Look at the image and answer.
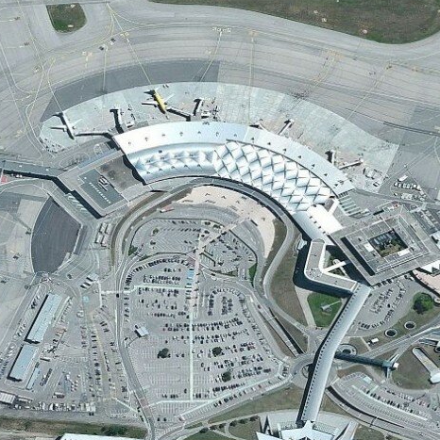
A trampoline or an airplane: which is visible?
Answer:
airplane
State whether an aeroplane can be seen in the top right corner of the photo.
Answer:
No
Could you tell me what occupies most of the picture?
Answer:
paved ground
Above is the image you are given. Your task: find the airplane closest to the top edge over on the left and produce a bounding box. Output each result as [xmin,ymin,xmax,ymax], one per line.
[147,87,171,114]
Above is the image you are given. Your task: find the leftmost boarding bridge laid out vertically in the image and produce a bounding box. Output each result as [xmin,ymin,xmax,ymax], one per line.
[113,104,125,134]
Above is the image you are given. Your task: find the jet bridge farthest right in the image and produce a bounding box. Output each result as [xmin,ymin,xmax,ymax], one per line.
[338,156,366,171]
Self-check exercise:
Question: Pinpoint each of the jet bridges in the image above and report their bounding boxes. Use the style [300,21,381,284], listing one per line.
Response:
[329,147,335,165]
[338,156,366,171]
[192,96,202,121]
[166,105,193,122]
[113,104,125,134]
[75,130,116,142]
[254,121,268,132]
[277,116,296,136]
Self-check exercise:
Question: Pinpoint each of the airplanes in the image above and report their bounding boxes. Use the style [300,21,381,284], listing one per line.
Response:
[52,109,78,138]
[147,87,171,114]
